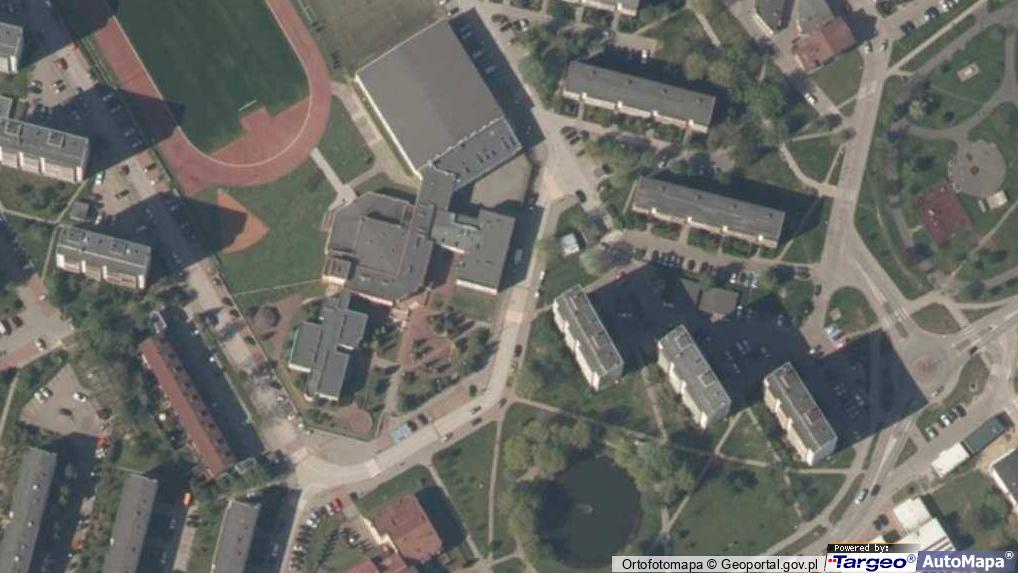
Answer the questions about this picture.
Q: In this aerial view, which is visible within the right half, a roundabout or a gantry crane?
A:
roundabout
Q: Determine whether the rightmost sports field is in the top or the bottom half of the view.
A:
top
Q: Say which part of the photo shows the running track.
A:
top left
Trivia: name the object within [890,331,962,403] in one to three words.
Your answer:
roundabout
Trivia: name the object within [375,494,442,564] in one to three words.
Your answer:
house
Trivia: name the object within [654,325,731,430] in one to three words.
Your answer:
building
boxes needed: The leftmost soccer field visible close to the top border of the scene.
[105,0,309,153]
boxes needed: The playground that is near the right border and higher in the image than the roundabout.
[915,181,972,247]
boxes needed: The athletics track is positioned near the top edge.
[77,0,332,195]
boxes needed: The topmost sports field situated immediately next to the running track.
[305,0,446,76]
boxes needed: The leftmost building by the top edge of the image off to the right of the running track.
[357,21,504,177]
